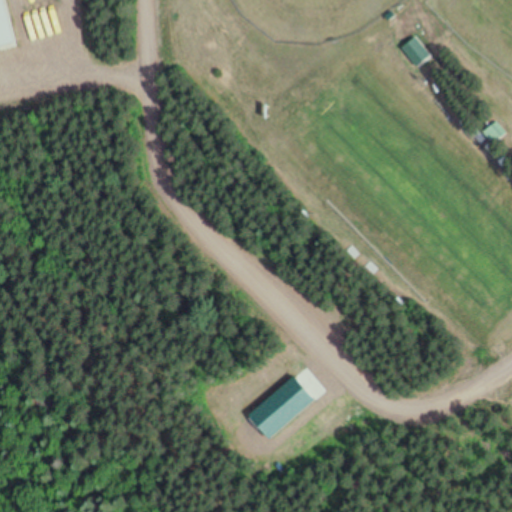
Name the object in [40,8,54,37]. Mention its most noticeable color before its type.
white vehicle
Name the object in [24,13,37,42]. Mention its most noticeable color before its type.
white vehicle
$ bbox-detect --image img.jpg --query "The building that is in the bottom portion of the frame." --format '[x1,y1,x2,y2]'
[249,377,313,438]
